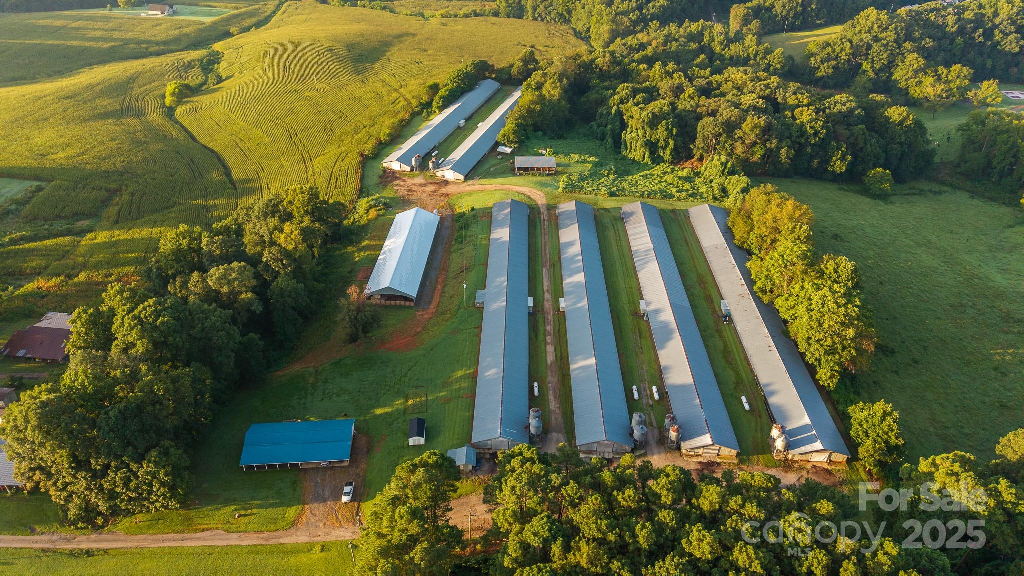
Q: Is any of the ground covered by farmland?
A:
Yes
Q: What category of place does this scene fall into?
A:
residential area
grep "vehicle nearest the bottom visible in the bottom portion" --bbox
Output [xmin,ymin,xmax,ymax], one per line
[339,480,356,503]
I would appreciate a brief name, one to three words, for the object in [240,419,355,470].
shed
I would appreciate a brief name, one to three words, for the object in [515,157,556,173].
shed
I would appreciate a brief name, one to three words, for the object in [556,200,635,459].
house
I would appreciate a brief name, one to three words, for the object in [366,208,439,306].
barn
